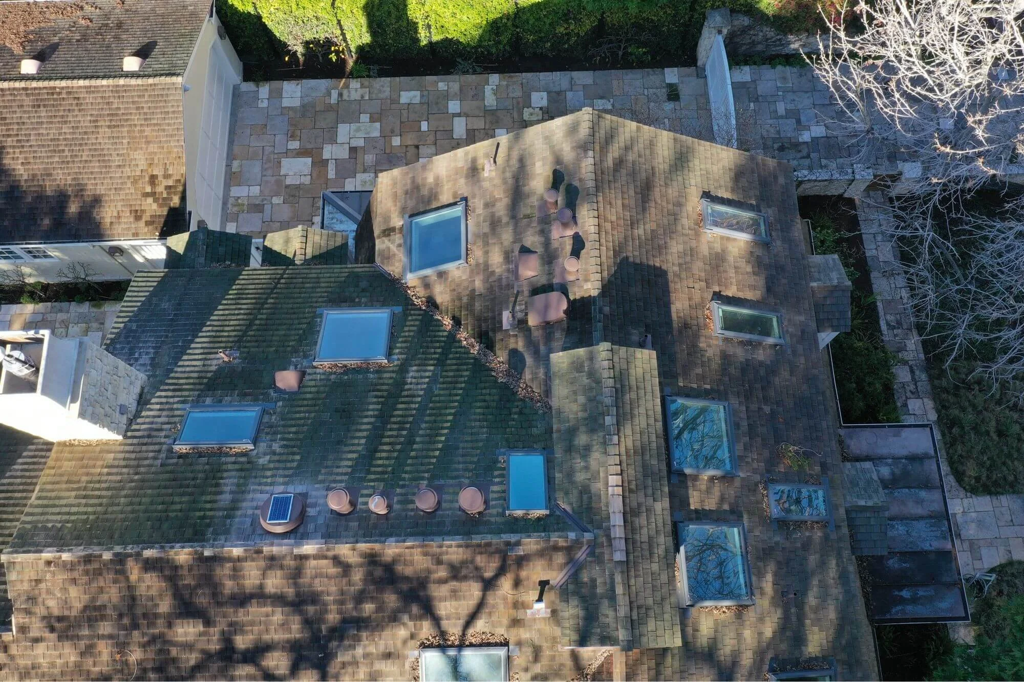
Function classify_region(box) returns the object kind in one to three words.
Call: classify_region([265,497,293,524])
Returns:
solar panel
